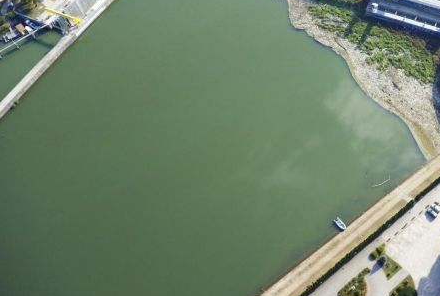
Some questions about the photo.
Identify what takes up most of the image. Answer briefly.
water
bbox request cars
[426,207,437,217]
[431,203,440,212]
